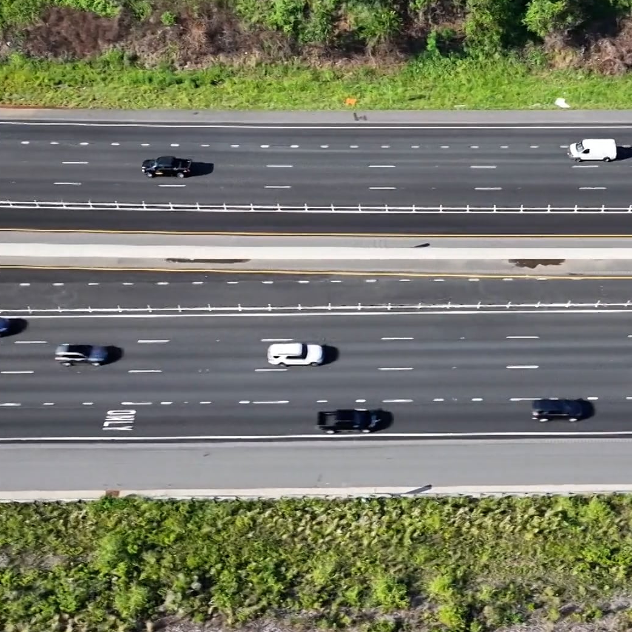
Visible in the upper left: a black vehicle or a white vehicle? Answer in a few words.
black vehicle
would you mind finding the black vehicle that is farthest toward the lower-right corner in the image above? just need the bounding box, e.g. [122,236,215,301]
[530,396,583,422]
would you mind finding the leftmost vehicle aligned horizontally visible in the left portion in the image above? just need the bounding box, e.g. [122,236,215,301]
[53,341,108,366]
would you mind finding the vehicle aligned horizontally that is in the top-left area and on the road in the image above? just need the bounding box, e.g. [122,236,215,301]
[140,156,193,177]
